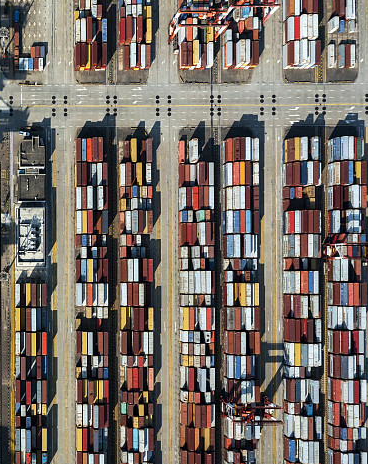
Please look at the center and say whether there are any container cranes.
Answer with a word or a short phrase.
No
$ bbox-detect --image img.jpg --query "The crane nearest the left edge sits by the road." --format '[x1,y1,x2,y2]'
[167,9,227,45]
